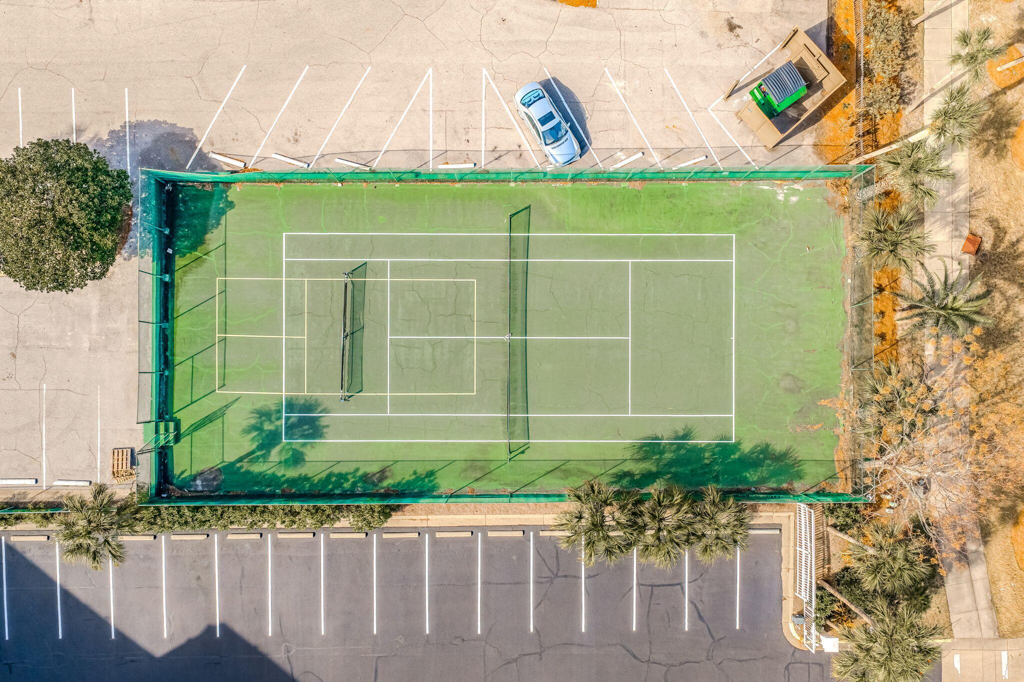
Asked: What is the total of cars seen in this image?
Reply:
1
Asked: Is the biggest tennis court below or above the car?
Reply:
below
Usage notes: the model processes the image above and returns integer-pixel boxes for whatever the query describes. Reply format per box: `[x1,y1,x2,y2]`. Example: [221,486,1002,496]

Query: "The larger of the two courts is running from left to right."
[160,181,856,497]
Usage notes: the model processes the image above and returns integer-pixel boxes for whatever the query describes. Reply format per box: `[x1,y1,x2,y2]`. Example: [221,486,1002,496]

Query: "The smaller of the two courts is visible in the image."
[216,278,476,395]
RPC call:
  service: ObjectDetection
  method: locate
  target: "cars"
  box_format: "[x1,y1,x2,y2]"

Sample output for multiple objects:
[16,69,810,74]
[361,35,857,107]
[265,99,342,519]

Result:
[515,80,580,169]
